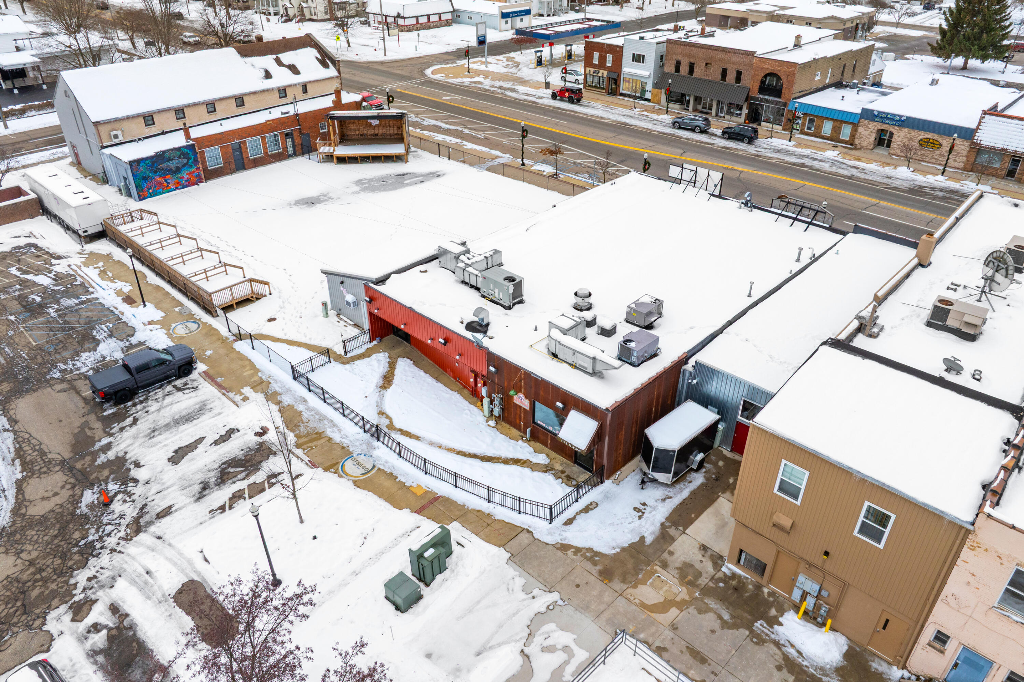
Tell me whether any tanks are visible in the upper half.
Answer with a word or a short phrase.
No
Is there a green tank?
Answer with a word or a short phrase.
No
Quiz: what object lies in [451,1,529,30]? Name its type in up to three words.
building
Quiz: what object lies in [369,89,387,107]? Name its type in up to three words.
vehicle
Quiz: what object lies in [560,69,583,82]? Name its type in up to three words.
vehicle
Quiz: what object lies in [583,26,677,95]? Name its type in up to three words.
building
